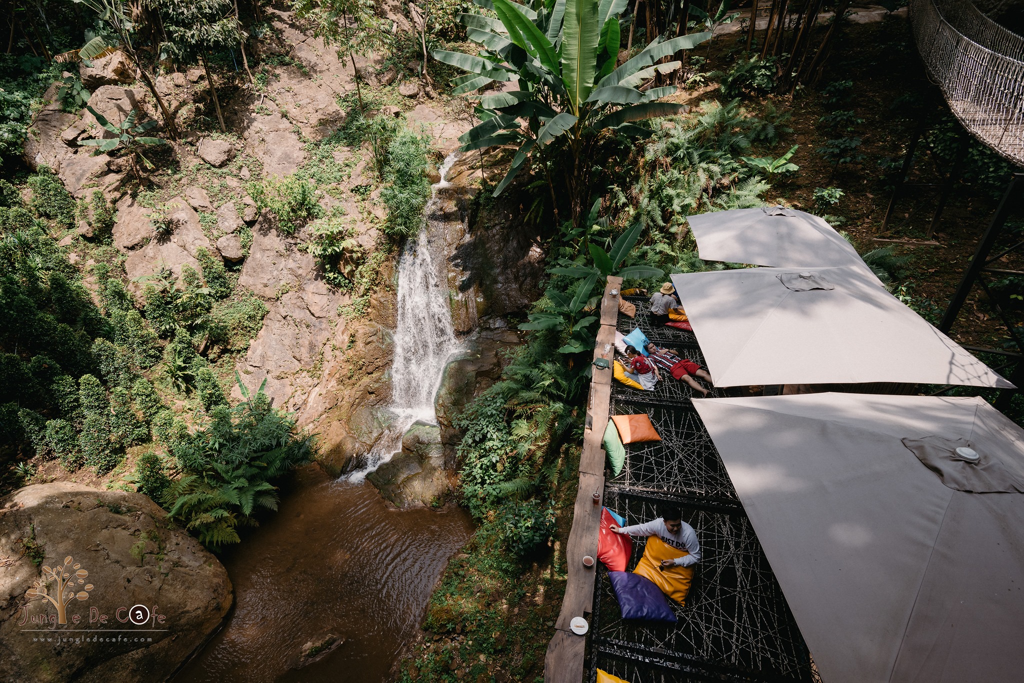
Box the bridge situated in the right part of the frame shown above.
[907,0,1024,209]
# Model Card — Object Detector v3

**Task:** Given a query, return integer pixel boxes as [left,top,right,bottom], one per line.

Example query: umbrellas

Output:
[685,202,895,284]
[690,396,1024,683]
[669,266,1017,398]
